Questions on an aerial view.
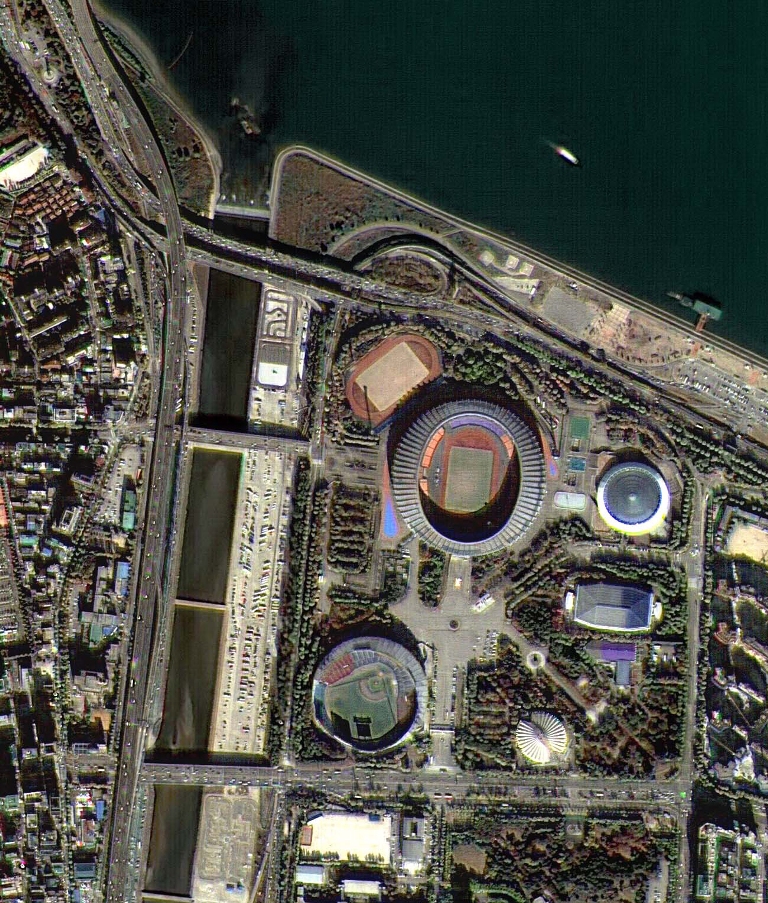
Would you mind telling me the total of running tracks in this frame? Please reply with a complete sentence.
The number of running tracks here is 2.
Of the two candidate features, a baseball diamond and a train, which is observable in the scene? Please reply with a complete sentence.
Visible in the photo is a baseball diamond.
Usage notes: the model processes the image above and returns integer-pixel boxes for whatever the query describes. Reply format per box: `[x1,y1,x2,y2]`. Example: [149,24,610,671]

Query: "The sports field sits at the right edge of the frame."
[729,523,768,563]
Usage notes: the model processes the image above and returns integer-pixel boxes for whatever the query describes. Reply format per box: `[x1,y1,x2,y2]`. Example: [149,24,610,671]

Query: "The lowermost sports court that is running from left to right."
[555,492,586,509]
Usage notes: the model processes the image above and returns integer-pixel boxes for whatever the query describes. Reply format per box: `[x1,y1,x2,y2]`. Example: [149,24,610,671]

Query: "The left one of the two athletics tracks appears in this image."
[346,333,439,420]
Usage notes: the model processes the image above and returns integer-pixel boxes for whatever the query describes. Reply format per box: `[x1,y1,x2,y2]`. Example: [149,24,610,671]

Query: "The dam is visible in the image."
[213,196,271,221]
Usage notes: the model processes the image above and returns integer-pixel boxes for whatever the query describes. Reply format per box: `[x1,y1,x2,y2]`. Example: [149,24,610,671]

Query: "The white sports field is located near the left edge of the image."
[0,147,48,185]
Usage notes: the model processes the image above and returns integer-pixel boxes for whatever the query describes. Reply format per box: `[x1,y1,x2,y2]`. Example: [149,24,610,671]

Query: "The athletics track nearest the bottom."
[438,429,502,526]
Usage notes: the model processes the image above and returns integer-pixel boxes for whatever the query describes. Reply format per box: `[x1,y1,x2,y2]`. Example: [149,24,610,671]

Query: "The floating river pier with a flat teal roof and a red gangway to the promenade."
[693,301,723,332]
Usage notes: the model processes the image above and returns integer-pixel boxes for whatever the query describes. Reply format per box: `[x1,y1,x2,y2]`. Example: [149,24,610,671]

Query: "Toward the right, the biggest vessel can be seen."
[557,146,577,161]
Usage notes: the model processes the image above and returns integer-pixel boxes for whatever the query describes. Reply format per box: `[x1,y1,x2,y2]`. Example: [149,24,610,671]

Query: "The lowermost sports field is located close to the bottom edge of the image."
[301,814,391,864]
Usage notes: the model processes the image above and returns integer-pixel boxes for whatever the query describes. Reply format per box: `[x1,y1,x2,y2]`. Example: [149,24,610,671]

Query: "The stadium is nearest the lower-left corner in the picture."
[312,638,428,754]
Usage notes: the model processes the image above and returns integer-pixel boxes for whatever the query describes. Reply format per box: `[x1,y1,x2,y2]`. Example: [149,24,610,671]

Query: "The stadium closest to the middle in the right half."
[392,401,544,556]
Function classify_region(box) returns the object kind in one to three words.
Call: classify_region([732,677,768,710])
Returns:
building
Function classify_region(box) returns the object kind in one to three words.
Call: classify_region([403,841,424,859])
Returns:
building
